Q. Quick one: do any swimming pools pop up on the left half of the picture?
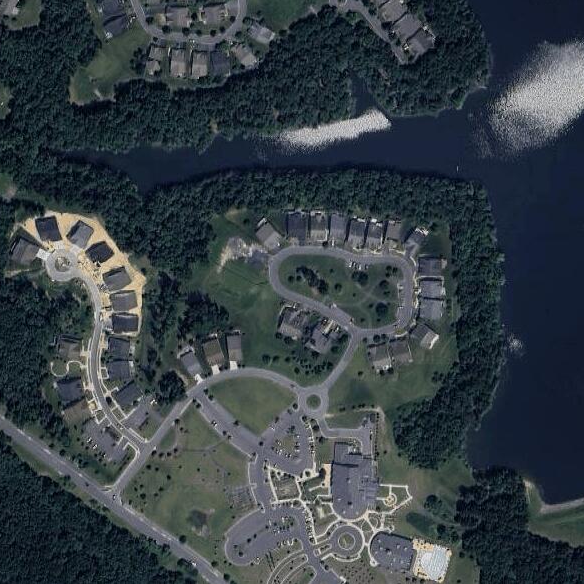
No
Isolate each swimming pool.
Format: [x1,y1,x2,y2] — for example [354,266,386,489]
[414,539,451,583]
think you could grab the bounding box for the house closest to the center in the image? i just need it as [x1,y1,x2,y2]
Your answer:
[277,302,312,339]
